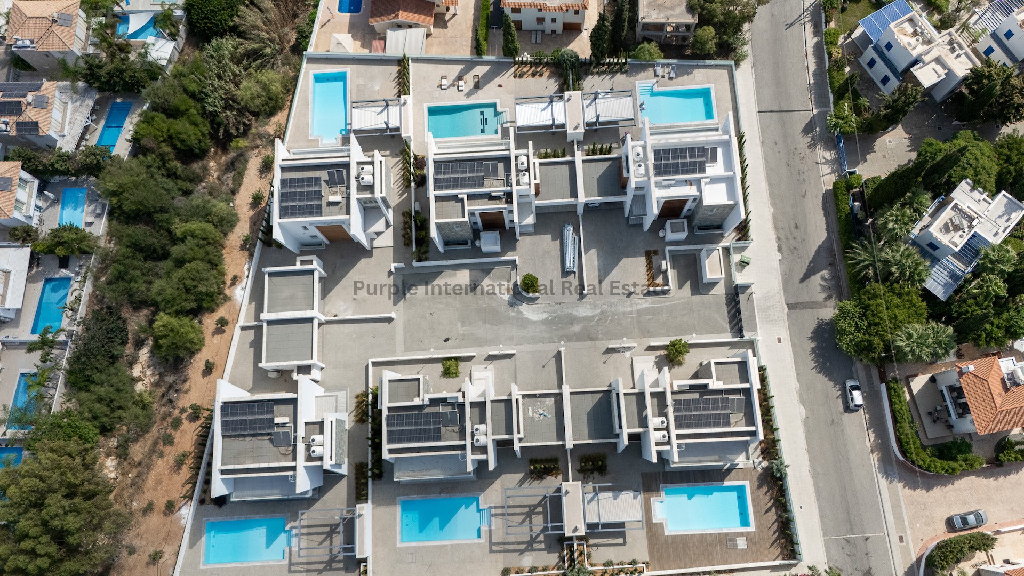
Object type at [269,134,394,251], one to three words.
house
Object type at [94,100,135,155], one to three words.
swimming pool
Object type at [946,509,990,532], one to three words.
car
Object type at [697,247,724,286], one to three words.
shed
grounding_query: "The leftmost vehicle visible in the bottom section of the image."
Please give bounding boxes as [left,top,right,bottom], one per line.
[841,378,866,412]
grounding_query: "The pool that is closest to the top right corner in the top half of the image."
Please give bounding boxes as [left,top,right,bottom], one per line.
[636,79,717,128]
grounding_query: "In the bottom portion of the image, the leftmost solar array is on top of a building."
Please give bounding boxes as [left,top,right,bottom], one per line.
[223,400,276,436]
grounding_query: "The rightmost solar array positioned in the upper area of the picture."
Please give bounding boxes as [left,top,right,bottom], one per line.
[654,146,705,177]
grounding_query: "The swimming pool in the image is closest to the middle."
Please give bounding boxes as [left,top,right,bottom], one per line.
[424,99,511,144]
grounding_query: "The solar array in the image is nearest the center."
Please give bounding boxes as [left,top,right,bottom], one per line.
[435,160,484,191]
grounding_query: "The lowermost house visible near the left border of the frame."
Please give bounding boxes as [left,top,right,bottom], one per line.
[0,247,43,315]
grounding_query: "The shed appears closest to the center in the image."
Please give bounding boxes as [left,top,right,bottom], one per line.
[480,230,501,253]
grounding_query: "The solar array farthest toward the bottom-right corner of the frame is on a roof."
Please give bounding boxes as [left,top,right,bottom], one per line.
[674,396,730,430]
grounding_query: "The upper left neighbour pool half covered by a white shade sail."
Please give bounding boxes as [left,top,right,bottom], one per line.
[114,7,162,41]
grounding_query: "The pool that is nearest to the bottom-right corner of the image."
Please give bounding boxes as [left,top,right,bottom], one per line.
[651,478,752,536]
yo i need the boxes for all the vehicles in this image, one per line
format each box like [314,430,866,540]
[841,378,866,412]
[946,509,990,532]
[587,203,601,209]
